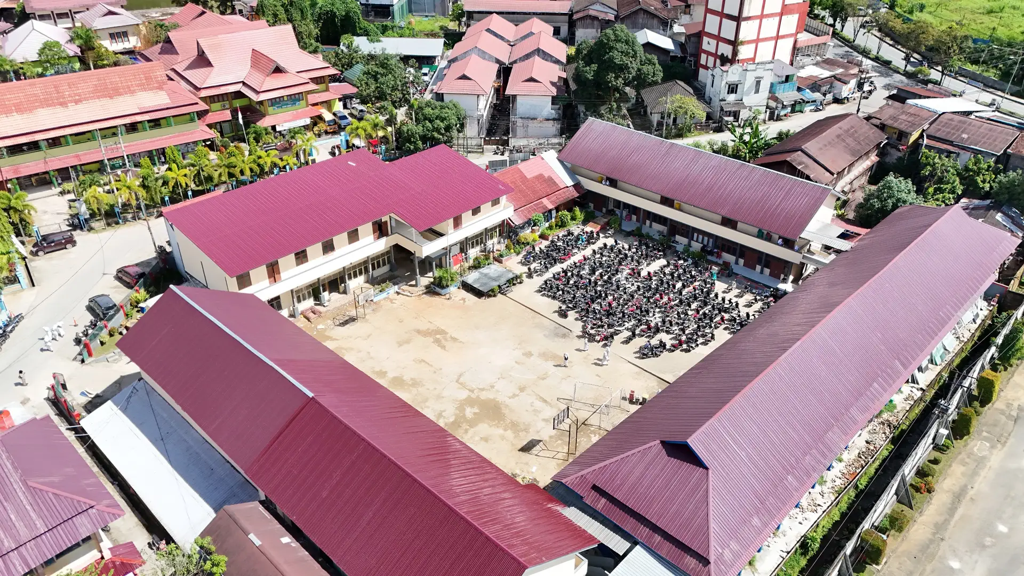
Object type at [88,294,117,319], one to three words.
car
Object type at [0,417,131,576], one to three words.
house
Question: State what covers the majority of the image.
buildings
